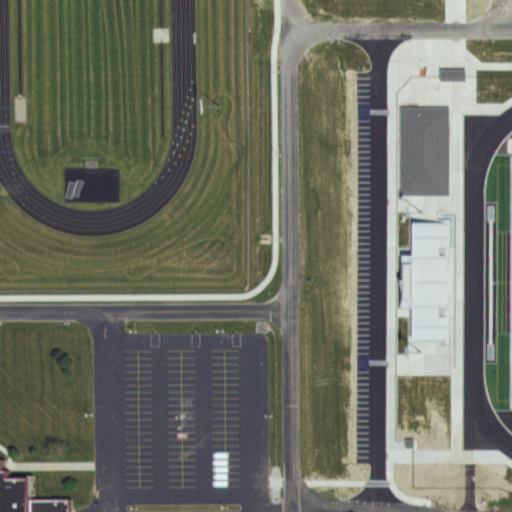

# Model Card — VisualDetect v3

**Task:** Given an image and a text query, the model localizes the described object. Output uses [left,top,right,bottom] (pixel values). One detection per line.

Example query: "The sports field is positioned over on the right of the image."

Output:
[486,134,512,411]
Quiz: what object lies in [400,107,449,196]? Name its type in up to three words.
building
